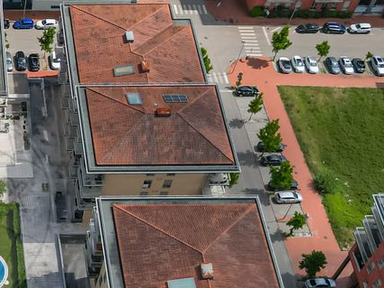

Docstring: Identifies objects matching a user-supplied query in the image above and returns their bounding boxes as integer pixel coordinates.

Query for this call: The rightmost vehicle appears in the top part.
[370,54,384,76]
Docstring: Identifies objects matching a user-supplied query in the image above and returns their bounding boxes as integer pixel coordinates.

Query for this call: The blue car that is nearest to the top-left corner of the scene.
[14,17,36,30]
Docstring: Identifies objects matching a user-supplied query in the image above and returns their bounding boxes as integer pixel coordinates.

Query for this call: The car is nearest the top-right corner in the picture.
[346,21,375,33]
